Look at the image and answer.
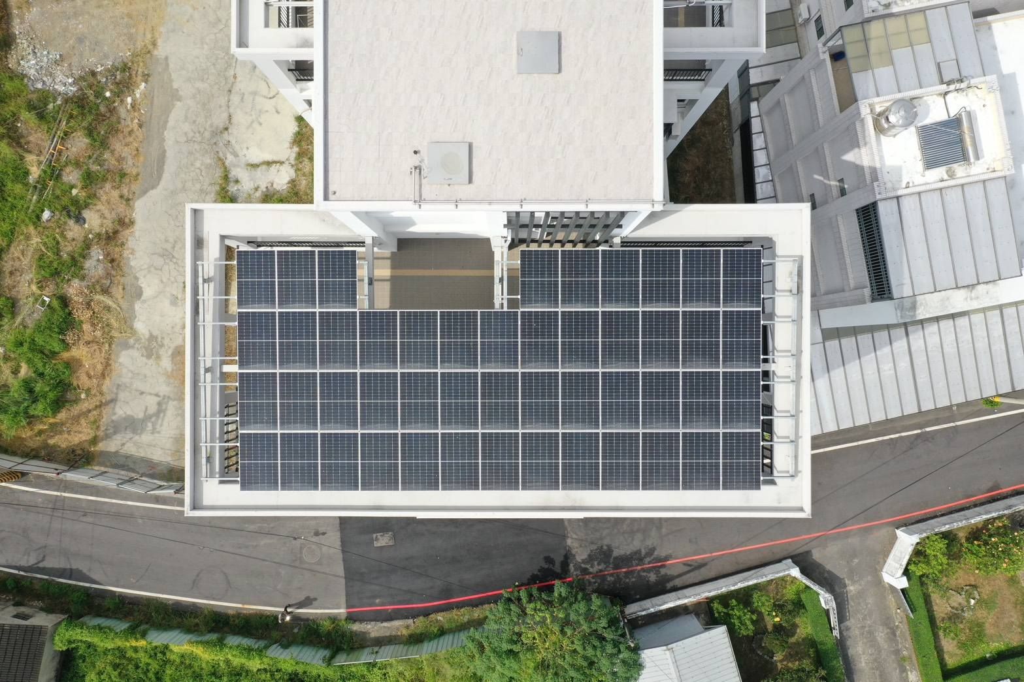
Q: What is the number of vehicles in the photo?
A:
0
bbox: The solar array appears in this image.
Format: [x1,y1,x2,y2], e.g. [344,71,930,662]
[196,247,798,490]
